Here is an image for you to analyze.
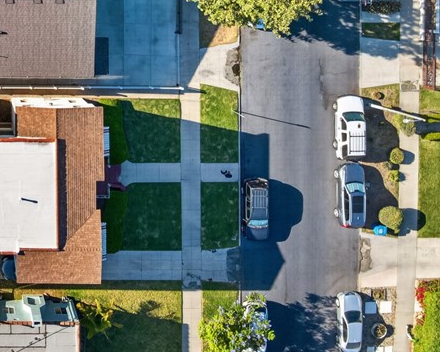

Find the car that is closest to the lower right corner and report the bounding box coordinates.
[332,289,365,352]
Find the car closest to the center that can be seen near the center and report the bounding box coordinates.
[241,177,272,239]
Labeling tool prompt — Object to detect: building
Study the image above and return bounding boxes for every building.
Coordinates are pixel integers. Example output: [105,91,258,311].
[0,294,83,352]
[0,0,98,82]
[0,93,126,284]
